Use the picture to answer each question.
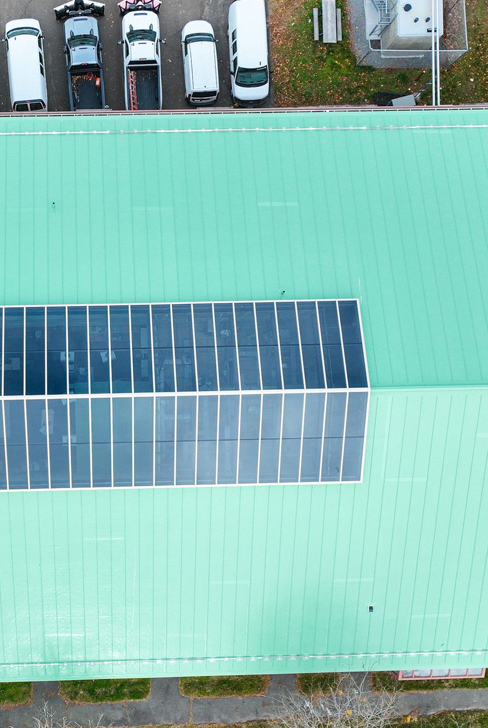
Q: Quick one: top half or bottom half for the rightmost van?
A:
top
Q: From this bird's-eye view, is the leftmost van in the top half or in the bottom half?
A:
top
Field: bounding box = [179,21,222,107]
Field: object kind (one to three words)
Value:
van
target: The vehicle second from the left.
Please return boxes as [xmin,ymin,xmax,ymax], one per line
[55,0,109,112]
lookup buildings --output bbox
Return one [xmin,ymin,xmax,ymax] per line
[0,105,488,684]
[372,0,442,55]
